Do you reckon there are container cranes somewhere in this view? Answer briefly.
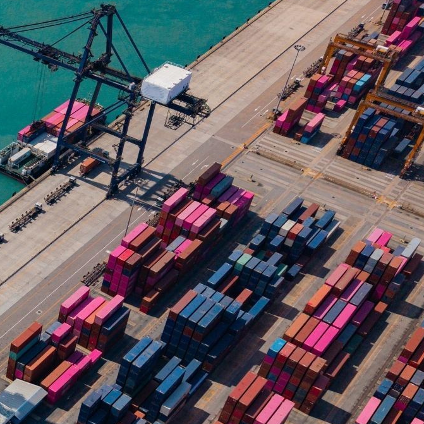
Yes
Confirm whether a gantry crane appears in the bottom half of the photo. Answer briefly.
No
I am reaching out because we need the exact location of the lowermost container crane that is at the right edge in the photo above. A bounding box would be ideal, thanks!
[332,88,424,181]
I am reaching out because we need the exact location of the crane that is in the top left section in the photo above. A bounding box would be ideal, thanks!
[0,0,217,200]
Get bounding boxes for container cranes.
[0,0,217,200]
[307,27,403,110]
[332,88,424,181]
